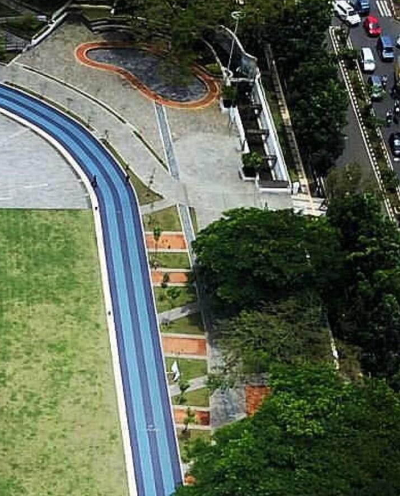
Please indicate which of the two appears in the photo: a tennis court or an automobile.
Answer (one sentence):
Looking from above, you can make out an automobile.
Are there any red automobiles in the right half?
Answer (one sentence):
Yes, the scene does show a red automobile in the right half.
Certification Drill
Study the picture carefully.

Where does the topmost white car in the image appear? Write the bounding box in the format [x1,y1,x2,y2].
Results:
[334,1,361,25]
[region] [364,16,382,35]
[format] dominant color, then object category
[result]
red car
